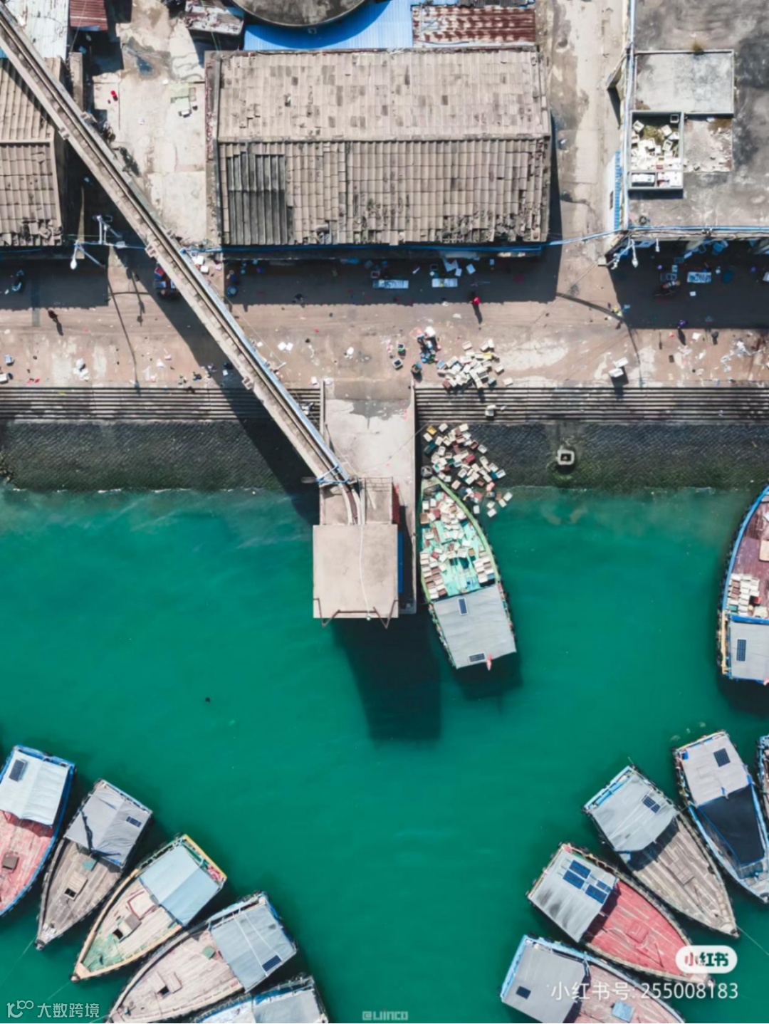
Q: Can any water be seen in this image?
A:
Yes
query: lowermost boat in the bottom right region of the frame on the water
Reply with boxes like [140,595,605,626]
[501,935,682,1024]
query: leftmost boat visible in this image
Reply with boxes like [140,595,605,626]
[0,747,78,925]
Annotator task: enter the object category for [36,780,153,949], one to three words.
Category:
boat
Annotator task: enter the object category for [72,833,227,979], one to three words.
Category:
boat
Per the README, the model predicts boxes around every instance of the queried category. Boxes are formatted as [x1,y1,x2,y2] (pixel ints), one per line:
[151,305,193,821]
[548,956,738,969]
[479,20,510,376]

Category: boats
[670,728,769,903]
[36,780,153,949]
[0,747,78,925]
[72,833,227,979]
[582,765,738,936]
[754,732,769,824]
[180,973,329,1024]
[105,890,297,1024]
[415,475,517,670]
[528,843,715,987]
[718,478,769,681]
[501,935,682,1024]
